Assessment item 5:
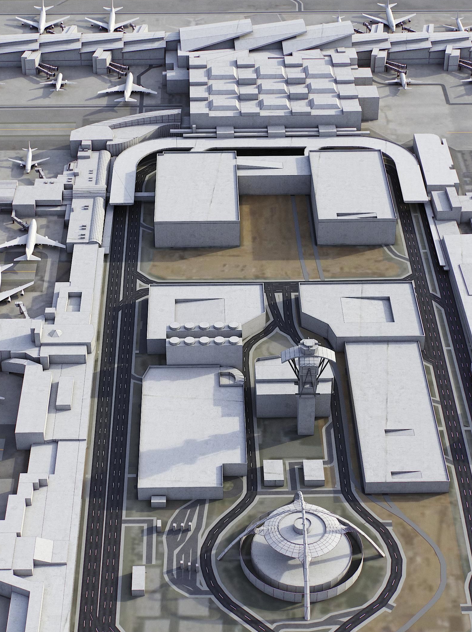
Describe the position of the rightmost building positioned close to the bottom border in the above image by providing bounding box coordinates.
[218,491,386,618]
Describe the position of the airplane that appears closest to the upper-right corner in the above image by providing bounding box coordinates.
[443,10,472,32]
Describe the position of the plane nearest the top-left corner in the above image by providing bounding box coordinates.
[15,5,70,34]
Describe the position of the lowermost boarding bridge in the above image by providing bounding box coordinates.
[14,301,30,318]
